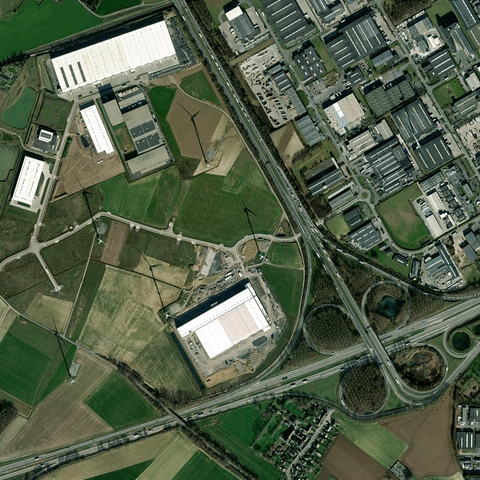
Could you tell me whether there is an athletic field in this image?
Yes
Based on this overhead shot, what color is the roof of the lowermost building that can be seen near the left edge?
white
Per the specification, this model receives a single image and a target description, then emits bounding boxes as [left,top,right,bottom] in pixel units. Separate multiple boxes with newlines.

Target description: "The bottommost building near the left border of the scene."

[10,156,45,208]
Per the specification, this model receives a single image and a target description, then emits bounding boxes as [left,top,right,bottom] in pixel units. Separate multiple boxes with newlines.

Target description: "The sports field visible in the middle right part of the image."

[375,187,432,250]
